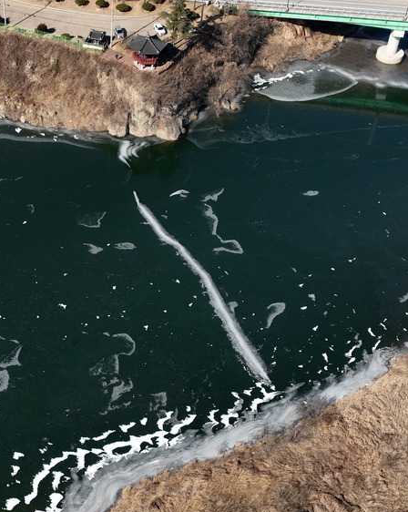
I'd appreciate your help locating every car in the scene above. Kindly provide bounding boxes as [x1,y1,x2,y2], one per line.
[154,21,167,34]
[114,22,125,37]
